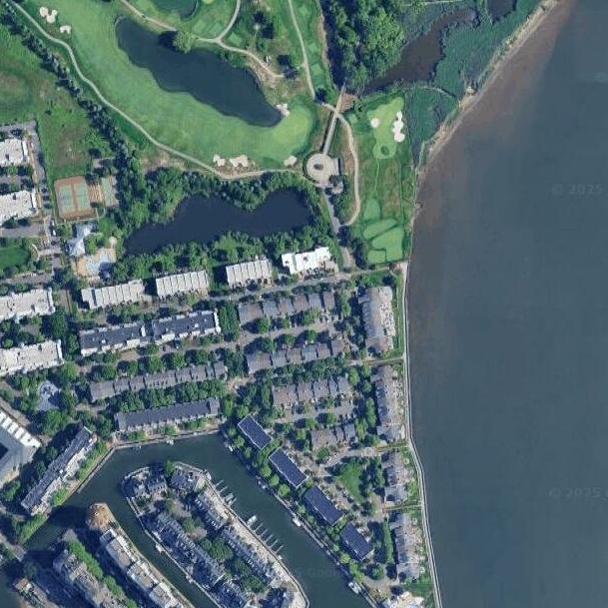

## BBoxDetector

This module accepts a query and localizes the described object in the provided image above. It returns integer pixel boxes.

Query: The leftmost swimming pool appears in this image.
[74,247,117,276]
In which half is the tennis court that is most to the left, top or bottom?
top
